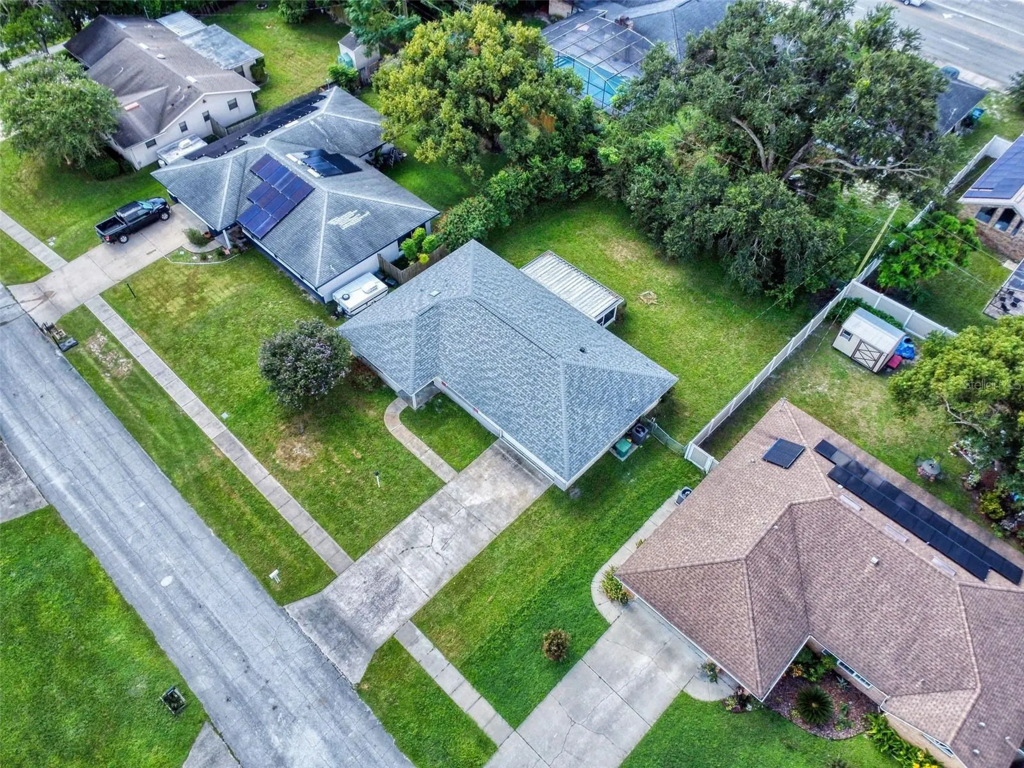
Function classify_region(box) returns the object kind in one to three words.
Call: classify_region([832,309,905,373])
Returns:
shed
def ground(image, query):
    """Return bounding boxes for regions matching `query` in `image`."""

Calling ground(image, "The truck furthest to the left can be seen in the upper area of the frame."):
[90,195,174,247]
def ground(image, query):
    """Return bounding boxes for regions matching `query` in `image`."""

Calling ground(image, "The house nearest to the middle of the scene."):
[338,239,677,492]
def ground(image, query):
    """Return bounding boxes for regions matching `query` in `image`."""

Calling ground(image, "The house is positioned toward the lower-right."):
[615,397,1024,768]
